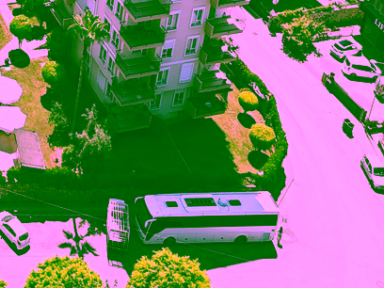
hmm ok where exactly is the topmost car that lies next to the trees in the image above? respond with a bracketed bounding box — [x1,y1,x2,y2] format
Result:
[322,33,370,61]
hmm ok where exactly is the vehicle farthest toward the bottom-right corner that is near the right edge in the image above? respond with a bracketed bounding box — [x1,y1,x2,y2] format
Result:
[359,157,384,191]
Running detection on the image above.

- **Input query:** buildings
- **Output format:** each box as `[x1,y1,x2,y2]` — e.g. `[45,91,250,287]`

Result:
[355,0,384,57]
[45,0,273,127]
